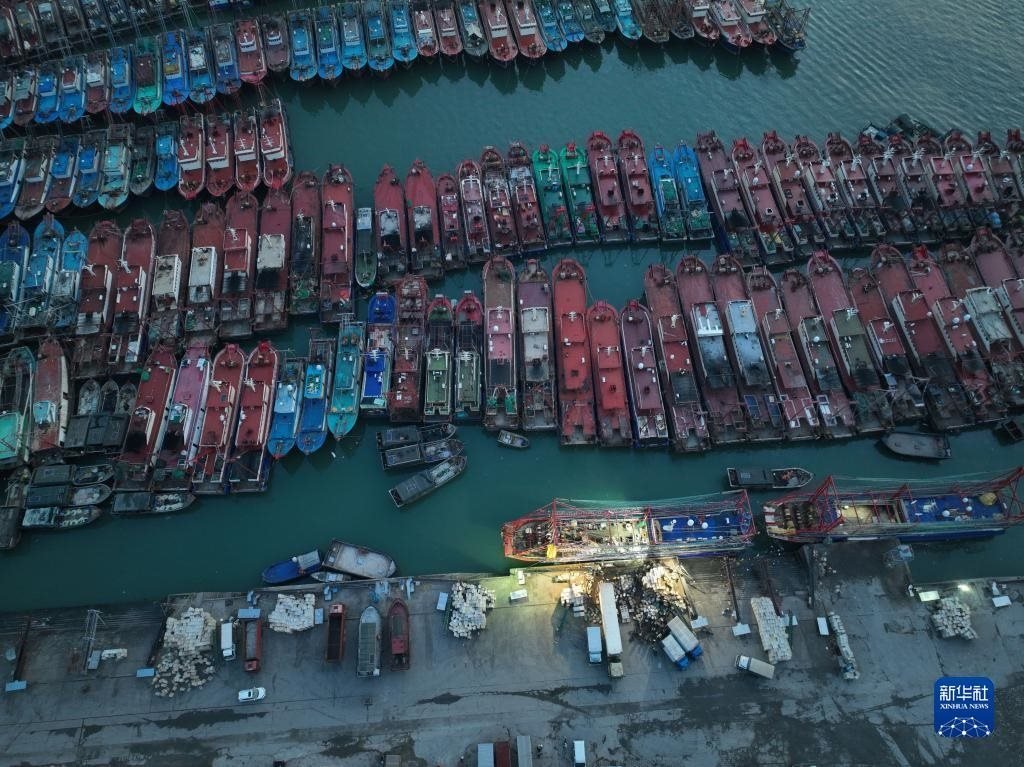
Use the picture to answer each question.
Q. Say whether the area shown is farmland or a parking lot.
parking lot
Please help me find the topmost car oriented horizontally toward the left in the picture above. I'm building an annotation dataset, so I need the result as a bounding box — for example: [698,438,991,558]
[237,685,268,702]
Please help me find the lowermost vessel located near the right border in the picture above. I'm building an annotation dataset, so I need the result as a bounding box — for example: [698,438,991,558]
[764,459,1024,547]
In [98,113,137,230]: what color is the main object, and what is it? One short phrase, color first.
blue boat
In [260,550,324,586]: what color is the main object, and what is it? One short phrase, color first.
blue boat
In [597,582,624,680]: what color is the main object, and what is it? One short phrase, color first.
white truck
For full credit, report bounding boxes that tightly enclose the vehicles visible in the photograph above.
[659,628,690,672]
[219,618,241,664]
[597,582,624,680]
[515,734,533,767]
[586,626,603,667]
[237,685,268,702]
[667,613,703,662]
[325,604,347,662]
[240,619,265,674]
[732,651,777,679]
[477,741,495,767]
[382,752,401,767]
[571,740,587,767]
